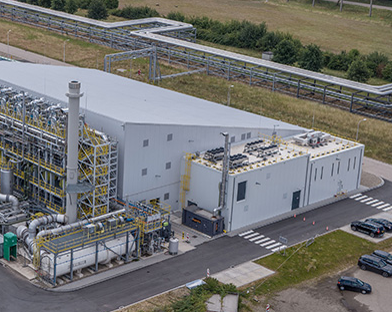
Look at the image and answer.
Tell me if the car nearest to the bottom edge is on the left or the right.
right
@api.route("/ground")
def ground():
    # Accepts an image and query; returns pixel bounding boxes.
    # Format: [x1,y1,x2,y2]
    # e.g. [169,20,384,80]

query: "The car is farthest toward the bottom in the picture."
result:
[336,274,371,293]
